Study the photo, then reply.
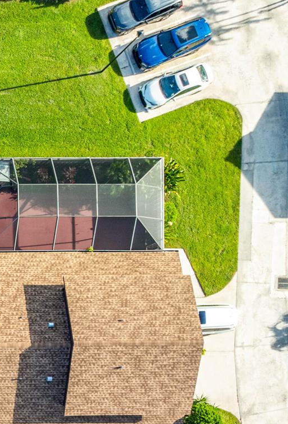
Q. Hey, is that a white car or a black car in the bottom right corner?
white car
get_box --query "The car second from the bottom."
[135,62,215,110]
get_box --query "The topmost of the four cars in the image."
[104,0,185,38]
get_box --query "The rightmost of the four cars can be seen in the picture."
[195,305,240,335]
